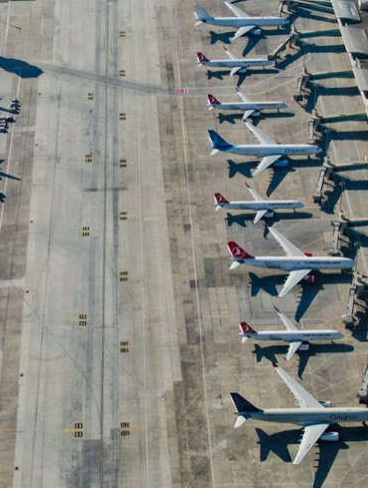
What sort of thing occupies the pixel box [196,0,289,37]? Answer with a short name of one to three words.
airplane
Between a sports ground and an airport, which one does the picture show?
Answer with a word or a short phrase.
airport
